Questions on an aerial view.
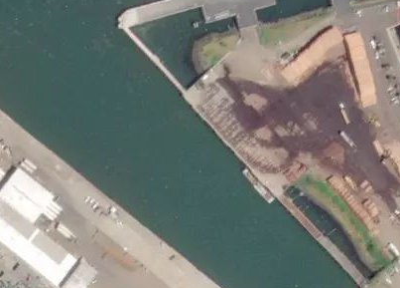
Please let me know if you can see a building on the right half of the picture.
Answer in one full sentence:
No, there's no building to be seen on the right half of the picture.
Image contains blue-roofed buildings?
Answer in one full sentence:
No, there isn't any blue-roofed building down there.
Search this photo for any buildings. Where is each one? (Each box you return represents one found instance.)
[0,218,78,286]
[0,168,55,223]
[62,259,98,288]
